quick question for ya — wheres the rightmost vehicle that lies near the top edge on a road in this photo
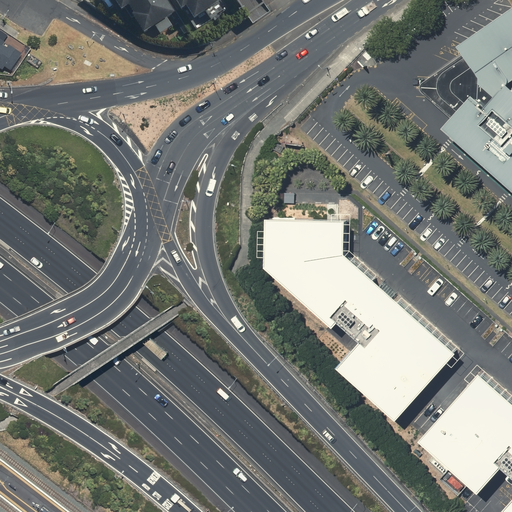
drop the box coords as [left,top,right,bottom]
[357,2,378,18]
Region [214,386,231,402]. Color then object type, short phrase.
white vehicle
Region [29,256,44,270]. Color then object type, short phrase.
white car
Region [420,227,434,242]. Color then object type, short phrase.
white car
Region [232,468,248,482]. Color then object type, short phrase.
white vehicle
